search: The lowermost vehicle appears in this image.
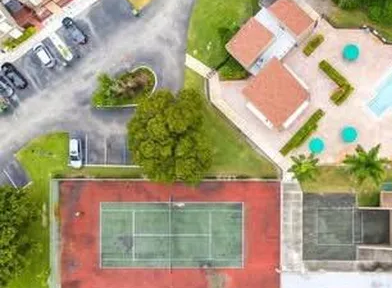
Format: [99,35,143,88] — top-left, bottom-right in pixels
[68,138,84,168]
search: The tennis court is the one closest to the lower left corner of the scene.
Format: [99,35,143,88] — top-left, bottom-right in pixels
[99,198,244,273]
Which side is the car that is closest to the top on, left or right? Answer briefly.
left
